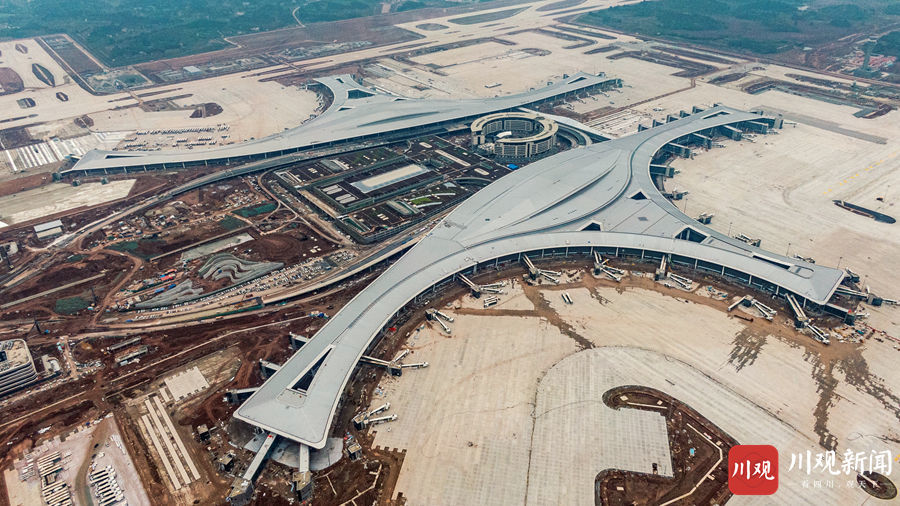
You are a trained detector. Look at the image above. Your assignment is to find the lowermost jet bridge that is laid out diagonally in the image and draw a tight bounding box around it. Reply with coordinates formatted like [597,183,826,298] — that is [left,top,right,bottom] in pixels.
[230,434,278,506]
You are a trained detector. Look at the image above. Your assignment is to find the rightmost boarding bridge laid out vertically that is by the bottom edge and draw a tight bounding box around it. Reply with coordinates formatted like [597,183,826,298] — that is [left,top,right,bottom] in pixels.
[292,445,310,499]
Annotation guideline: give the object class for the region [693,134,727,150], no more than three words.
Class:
jet bridge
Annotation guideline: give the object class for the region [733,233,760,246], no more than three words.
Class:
jet bridge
